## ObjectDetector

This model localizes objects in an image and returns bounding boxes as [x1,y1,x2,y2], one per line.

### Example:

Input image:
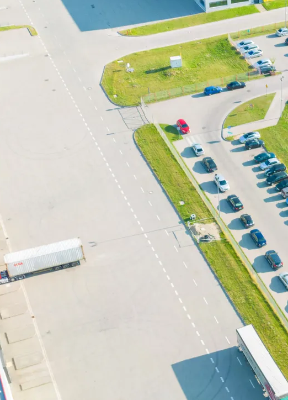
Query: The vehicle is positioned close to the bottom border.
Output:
[236,323,288,400]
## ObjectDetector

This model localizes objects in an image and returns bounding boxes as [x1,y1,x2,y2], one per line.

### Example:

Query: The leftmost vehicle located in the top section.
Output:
[177,120,190,134]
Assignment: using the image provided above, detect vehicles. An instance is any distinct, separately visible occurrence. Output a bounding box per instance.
[241,215,256,230]
[255,58,272,68]
[249,230,269,248]
[244,140,265,151]
[238,132,262,143]
[225,82,247,92]
[202,157,219,174]
[241,44,260,54]
[263,163,288,177]
[245,50,264,59]
[192,144,205,156]
[278,272,288,291]
[275,178,288,190]
[227,195,245,212]
[203,85,223,97]
[215,175,230,192]
[279,185,288,199]
[252,152,277,164]
[276,28,288,37]
[264,251,285,272]
[258,65,278,74]
[258,158,283,170]
[177,120,190,134]
[236,323,288,400]
[266,170,288,184]
[236,40,256,50]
